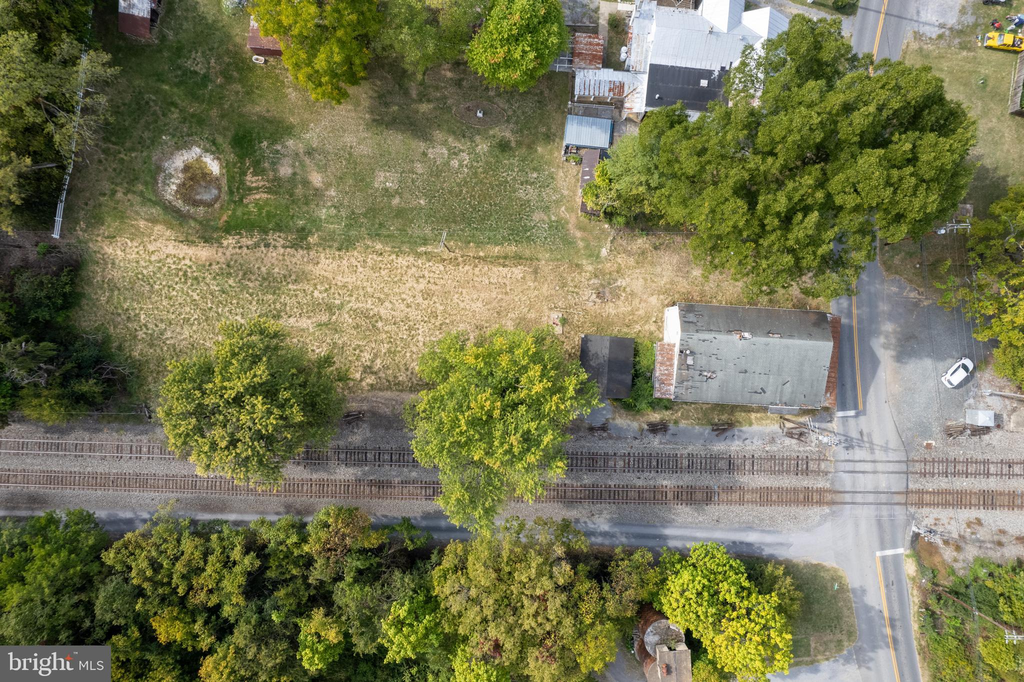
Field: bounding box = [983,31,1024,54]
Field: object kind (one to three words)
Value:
truck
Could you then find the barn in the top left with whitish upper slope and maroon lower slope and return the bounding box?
[118,0,159,44]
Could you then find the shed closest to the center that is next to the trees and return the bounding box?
[580,334,634,398]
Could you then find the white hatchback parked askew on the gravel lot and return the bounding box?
[940,358,972,390]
